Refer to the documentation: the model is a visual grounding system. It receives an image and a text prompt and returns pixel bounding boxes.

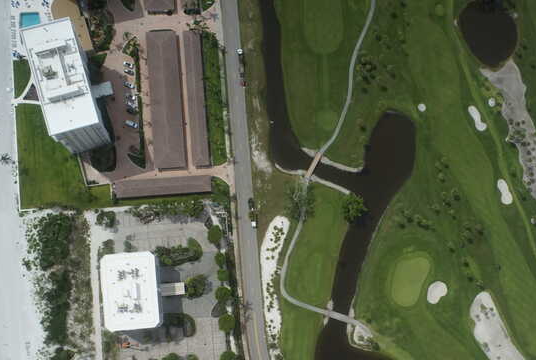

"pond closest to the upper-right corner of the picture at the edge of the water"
[459,0,518,69]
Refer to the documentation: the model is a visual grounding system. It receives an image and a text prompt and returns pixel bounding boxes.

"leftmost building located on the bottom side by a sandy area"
[100,251,162,332]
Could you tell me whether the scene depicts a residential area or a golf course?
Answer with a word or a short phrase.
golf course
